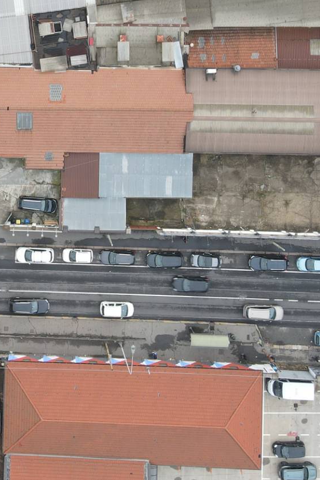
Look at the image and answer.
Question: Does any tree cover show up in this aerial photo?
No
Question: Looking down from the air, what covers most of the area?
buildings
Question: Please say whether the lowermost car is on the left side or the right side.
right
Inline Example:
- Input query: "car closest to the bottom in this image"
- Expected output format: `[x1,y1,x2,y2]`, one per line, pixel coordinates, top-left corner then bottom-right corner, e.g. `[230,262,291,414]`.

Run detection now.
[276,460,318,480]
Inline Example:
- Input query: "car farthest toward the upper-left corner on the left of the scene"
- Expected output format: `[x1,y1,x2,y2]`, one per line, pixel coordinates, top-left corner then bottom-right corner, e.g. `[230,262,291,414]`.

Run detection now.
[18,195,57,214]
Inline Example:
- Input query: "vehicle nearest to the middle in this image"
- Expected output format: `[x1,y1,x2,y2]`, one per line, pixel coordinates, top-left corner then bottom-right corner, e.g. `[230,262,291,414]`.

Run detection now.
[144,250,183,269]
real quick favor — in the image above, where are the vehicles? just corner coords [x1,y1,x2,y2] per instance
[144,250,183,269]
[9,295,49,316]
[16,245,55,265]
[263,379,317,400]
[61,248,93,265]
[188,252,222,269]
[313,329,320,345]
[294,255,320,273]
[246,253,288,273]
[98,299,134,319]
[171,273,210,294]
[18,195,57,214]
[270,438,307,459]
[276,460,318,480]
[241,301,284,322]
[98,249,135,266]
